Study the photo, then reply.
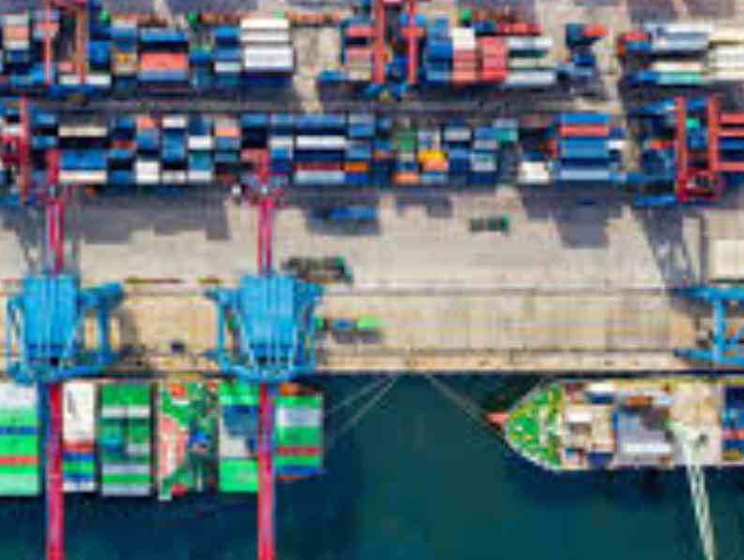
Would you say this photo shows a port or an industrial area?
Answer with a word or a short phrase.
port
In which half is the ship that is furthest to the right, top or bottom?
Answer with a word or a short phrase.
bottom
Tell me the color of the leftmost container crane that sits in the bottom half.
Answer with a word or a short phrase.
blue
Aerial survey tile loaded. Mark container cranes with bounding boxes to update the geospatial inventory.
[8,151,125,560]
[43,0,101,96]
[636,94,720,208]
[679,289,744,369]
[202,151,316,560]
[355,0,419,95]
[0,95,47,209]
